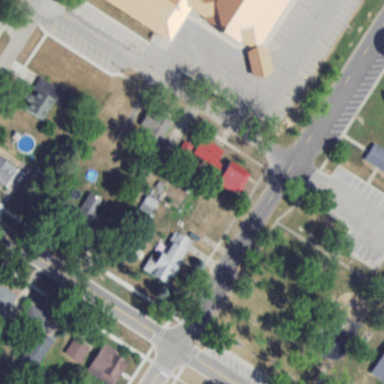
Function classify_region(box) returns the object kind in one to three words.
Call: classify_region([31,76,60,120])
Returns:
house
